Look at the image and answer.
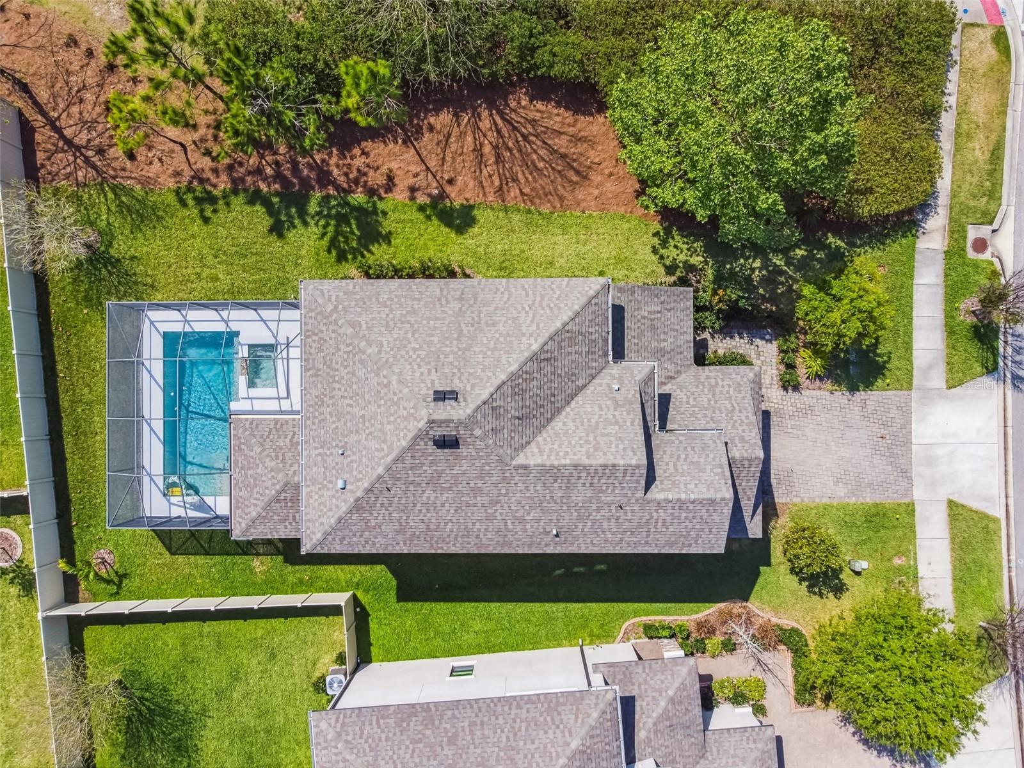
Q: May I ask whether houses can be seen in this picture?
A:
Yes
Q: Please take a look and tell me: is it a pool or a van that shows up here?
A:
pool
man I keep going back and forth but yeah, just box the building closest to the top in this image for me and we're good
[227,277,763,553]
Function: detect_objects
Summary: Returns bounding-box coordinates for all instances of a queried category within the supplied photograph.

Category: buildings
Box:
[307,641,778,768]
[227,277,763,553]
